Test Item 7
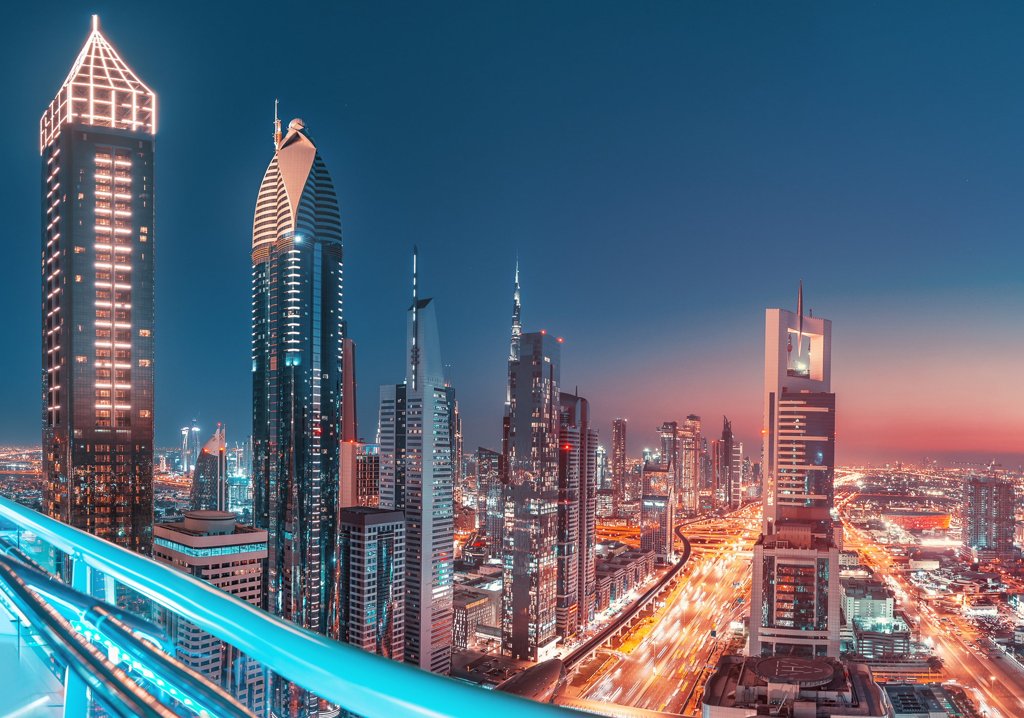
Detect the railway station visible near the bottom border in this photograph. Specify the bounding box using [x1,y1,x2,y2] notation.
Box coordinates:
[498,663,573,704]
